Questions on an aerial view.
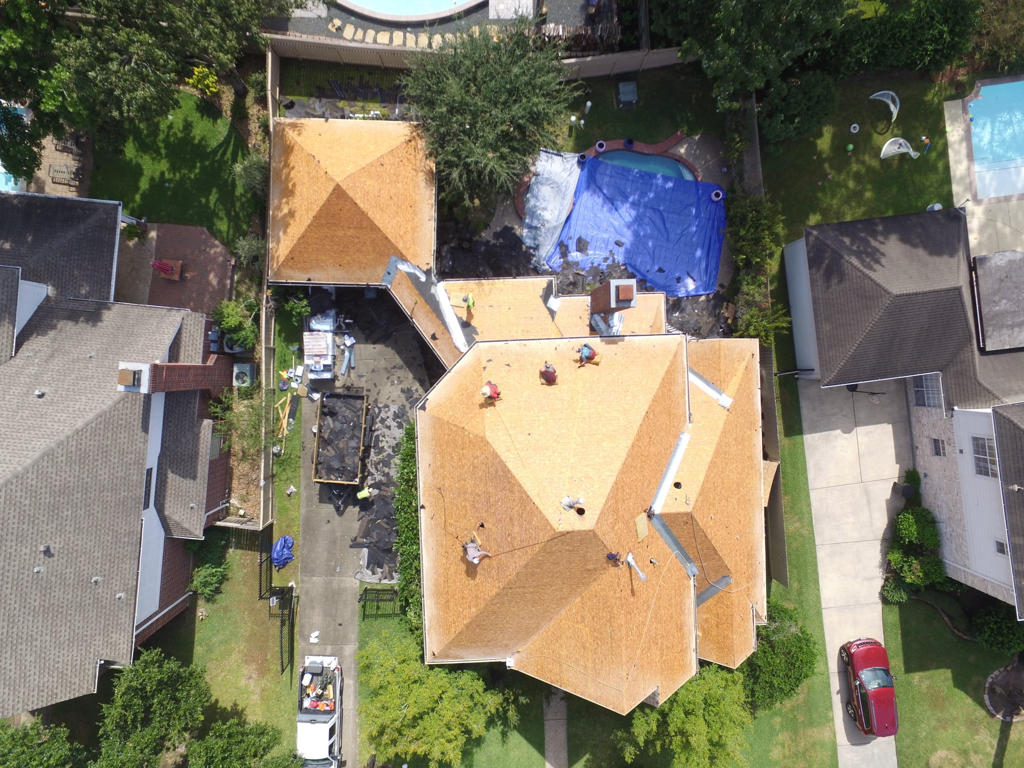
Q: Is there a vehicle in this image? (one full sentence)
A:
Yes, there is a vehicle in the image.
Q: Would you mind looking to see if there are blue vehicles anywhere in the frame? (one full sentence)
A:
No, there appears to be no blue vehicle in this shot.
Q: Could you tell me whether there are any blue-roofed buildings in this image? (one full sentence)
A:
No, I can see no blue-roofed building in this picture.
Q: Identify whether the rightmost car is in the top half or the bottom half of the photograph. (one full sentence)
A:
Seen from above, the rightmost car lies in the bottom half of the view.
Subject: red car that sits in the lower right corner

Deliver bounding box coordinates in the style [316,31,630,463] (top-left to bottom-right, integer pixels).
[841,632,898,737]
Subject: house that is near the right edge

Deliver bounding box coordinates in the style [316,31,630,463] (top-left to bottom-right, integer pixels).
[784,210,1024,620]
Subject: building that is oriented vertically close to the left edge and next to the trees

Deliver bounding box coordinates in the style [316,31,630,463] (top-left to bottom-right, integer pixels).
[0,186,236,718]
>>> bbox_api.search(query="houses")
[0,186,236,718]
[784,210,1024,620]
[414,275,781,714]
